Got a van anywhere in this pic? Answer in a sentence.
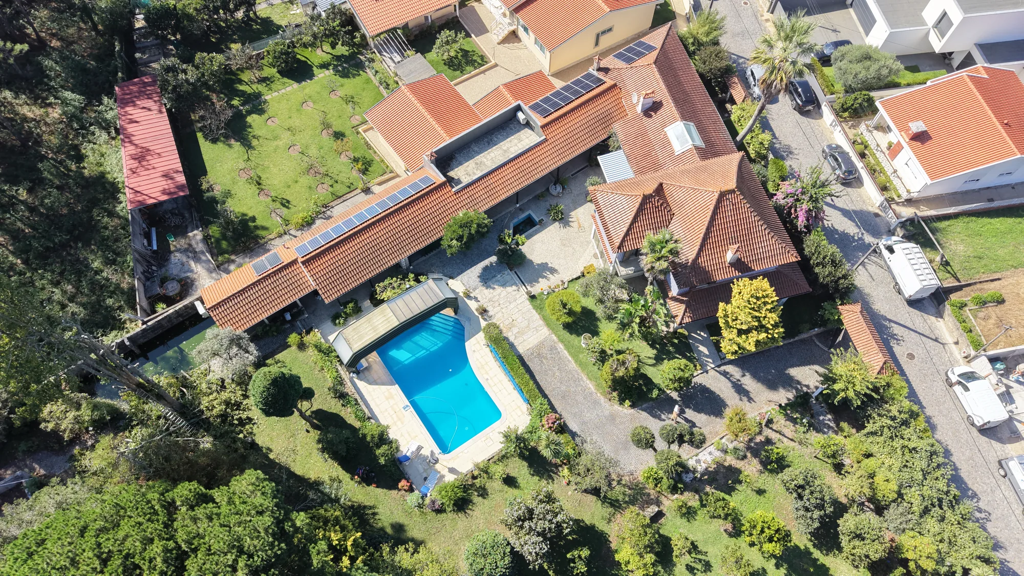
Yes, the photo shows a van.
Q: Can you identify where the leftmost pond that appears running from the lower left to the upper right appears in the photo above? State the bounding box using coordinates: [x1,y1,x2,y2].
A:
[100,308,222,410]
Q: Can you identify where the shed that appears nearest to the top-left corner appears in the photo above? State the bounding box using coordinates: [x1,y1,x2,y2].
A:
[113,76,205,225]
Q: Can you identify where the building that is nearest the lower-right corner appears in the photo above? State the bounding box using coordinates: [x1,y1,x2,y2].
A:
[838,303,902,382]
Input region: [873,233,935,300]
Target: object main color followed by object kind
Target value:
white van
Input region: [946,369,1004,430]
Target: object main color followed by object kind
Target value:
white van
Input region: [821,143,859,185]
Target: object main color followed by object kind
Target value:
gray car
